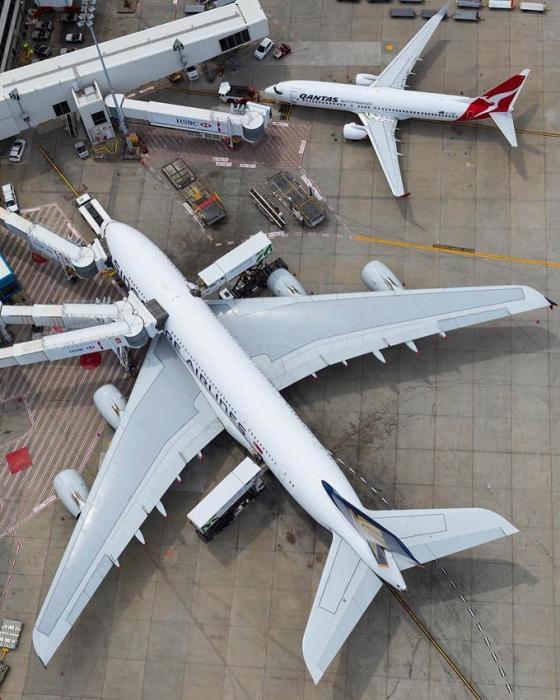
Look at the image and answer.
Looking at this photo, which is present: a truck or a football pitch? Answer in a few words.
truck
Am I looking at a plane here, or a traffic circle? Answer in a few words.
plane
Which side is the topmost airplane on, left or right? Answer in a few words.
right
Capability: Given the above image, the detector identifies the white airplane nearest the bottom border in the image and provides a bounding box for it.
[35,220,556,685]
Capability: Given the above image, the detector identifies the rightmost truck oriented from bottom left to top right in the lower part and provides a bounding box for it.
[191,455,270,545]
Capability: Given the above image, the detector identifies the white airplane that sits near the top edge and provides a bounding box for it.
[265,0,531,196]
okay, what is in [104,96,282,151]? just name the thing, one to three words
jet bridge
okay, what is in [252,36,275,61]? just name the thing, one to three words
car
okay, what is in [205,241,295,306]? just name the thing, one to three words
truck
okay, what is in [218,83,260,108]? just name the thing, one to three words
work vehicle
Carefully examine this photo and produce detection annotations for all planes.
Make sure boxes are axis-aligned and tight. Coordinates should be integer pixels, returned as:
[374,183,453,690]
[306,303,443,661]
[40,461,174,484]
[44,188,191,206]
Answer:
[265,0,531,196]
[35,220,556,685]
